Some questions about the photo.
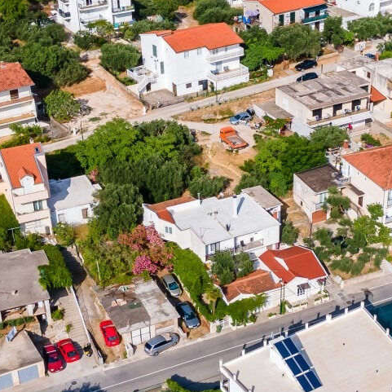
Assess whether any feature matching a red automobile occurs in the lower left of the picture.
Yes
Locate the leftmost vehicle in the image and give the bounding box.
[44,344,63,369]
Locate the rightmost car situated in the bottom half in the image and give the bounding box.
[179,303,198,327]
